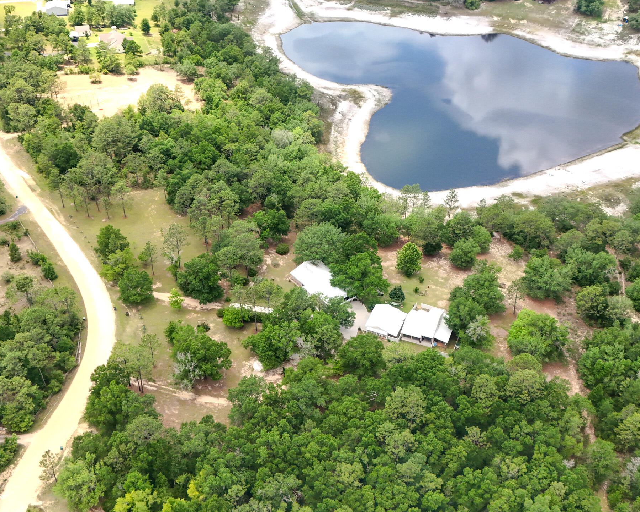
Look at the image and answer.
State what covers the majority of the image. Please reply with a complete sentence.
Most of the picture is covered by trees.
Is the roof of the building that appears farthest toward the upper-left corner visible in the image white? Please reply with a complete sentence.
Yes, the roof of the building that appears farthest toward the upper-left corner is indeed white.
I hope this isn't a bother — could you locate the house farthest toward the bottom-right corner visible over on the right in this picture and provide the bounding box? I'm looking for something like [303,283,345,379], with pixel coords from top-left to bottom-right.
[401,307,456,349]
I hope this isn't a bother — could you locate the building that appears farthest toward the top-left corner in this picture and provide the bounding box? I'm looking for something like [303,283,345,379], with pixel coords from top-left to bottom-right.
[44,0,69,21]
